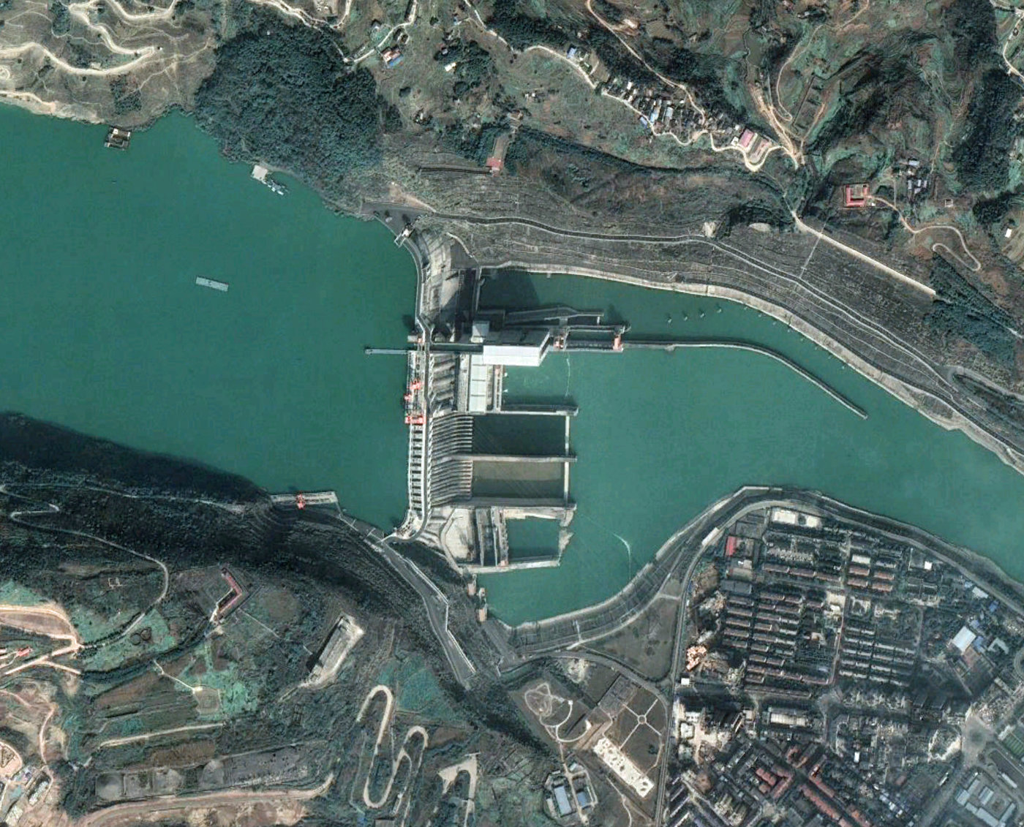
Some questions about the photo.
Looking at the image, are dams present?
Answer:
Yes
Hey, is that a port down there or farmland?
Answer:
port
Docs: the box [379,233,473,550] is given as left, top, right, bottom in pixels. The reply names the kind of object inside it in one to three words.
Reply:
dam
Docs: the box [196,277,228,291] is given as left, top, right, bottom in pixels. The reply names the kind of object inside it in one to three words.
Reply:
ship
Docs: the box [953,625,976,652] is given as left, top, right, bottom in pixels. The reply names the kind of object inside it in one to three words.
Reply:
building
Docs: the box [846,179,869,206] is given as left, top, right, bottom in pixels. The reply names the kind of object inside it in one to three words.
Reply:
house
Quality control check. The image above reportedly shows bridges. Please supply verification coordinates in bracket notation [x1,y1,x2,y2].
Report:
[432,334,486,354]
